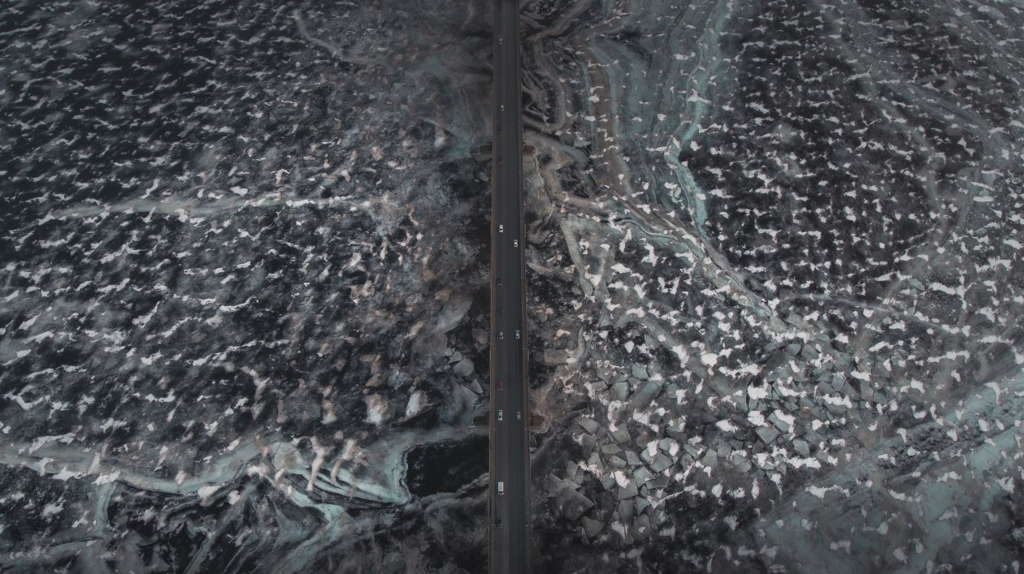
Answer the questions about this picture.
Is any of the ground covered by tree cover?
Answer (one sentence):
No, there is no tree cover in the image.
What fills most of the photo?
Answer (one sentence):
What you mostly see from above here is water.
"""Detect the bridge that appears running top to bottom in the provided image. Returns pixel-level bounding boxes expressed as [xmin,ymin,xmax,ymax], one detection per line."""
[474,0,545,574]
